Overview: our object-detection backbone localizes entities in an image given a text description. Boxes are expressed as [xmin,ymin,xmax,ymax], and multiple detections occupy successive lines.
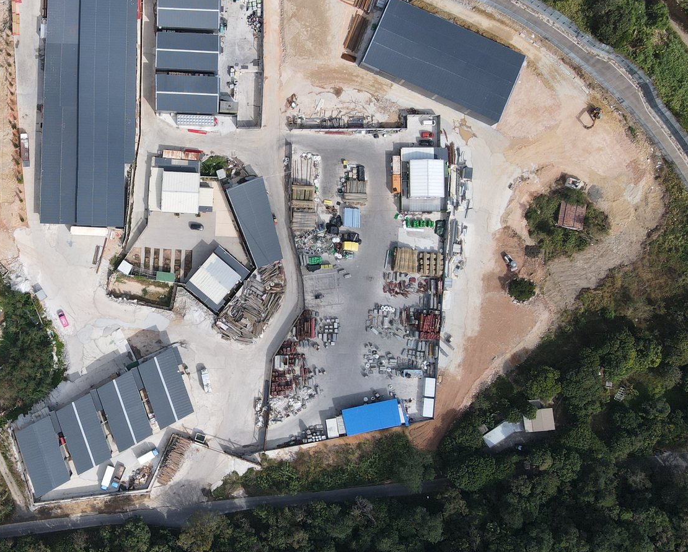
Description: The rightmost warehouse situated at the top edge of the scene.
[356,0,526,128]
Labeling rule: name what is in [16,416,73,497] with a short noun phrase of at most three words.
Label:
shed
